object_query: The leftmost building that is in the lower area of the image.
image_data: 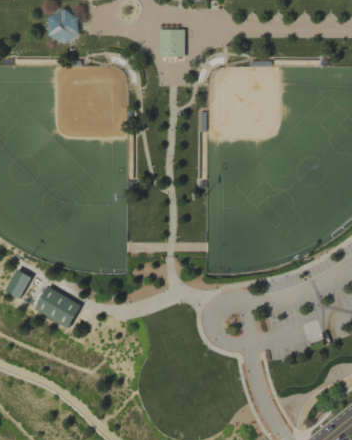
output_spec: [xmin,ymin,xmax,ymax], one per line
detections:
[6,270,30,298]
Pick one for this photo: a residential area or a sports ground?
sports ground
